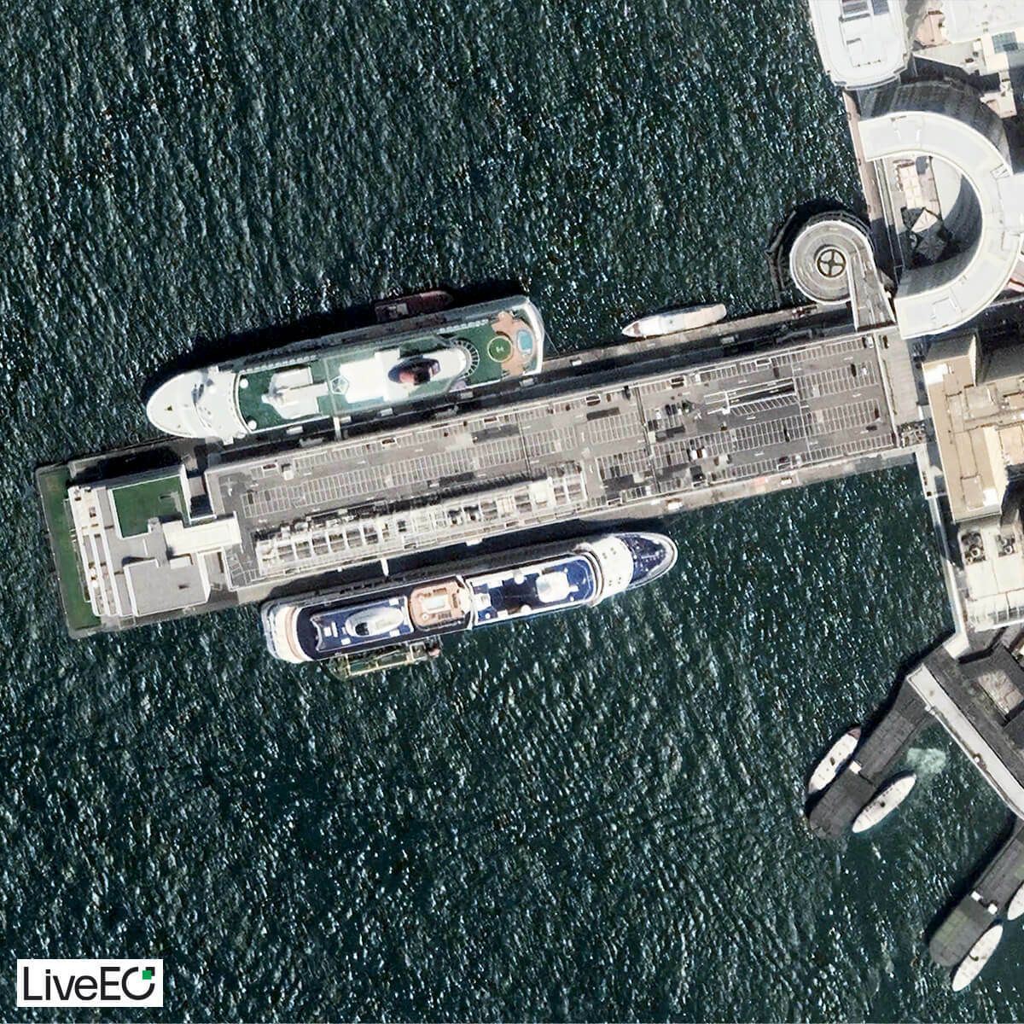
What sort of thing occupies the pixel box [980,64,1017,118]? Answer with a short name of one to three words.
house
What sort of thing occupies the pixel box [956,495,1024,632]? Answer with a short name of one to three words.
building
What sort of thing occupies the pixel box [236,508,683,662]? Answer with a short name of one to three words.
ship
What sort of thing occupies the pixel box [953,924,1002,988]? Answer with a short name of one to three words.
vessel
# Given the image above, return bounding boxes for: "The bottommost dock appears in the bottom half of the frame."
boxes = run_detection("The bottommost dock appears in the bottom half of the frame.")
[929,812,1024,968]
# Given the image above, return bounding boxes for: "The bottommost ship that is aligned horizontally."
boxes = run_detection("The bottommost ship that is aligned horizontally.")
[329,634,441,680]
